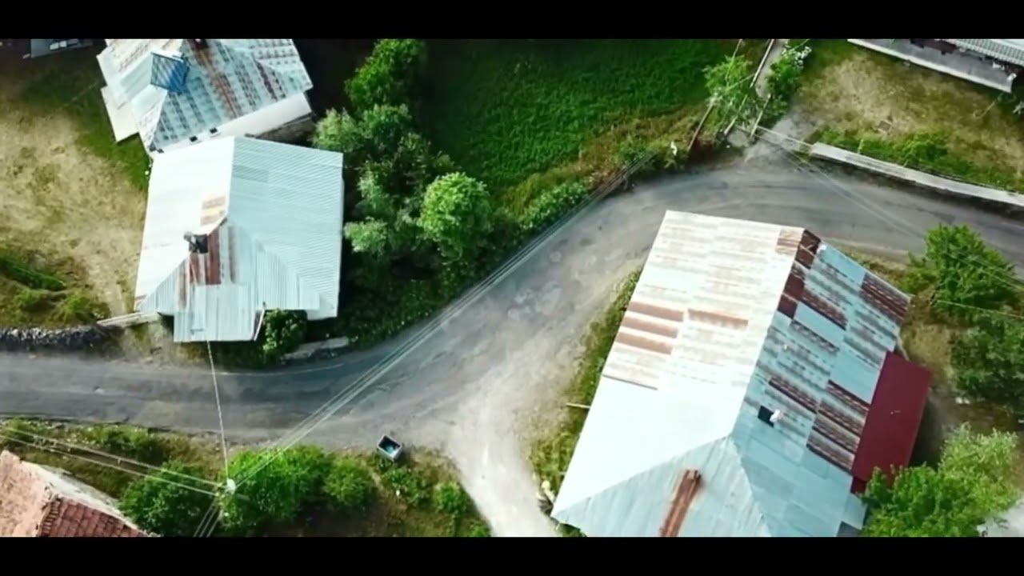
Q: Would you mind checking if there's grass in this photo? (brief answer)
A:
Yes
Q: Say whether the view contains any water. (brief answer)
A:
No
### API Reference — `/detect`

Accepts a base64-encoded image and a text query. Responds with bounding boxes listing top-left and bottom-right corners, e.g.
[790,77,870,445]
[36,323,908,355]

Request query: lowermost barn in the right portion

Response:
[552,210,931,576]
